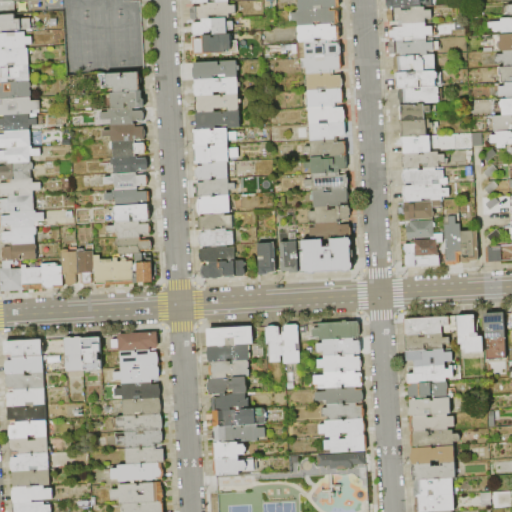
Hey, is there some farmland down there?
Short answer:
No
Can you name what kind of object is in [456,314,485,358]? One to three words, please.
building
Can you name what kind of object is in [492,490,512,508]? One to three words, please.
shed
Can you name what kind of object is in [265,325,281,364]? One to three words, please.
building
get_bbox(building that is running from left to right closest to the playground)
[317,452,366,470]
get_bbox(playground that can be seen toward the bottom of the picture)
[312,473,368,512]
